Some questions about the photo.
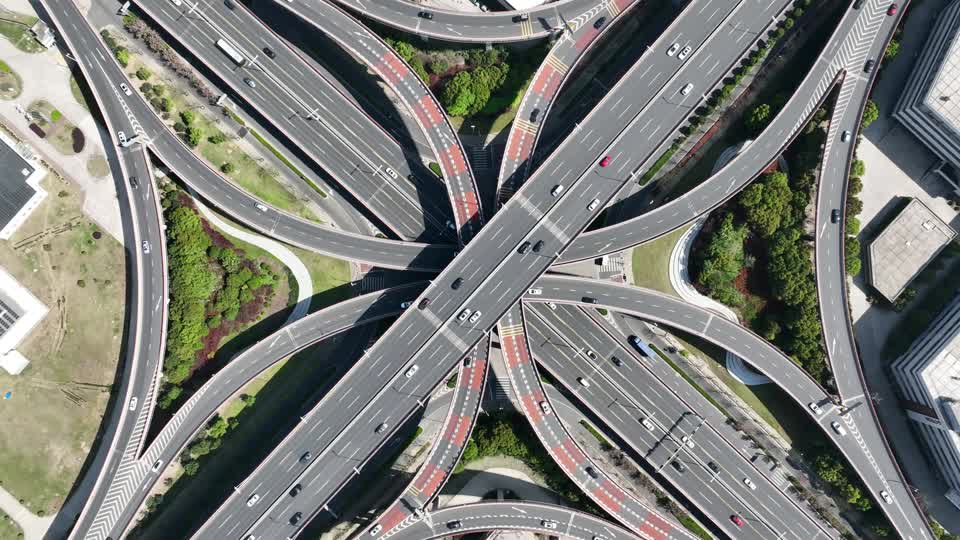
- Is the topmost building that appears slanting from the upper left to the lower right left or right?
left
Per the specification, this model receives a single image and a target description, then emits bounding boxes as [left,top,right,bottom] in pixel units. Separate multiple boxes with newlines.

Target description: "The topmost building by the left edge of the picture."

[34,18,64,50]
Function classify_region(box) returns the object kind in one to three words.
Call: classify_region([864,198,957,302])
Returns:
building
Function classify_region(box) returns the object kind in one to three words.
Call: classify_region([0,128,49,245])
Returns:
building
